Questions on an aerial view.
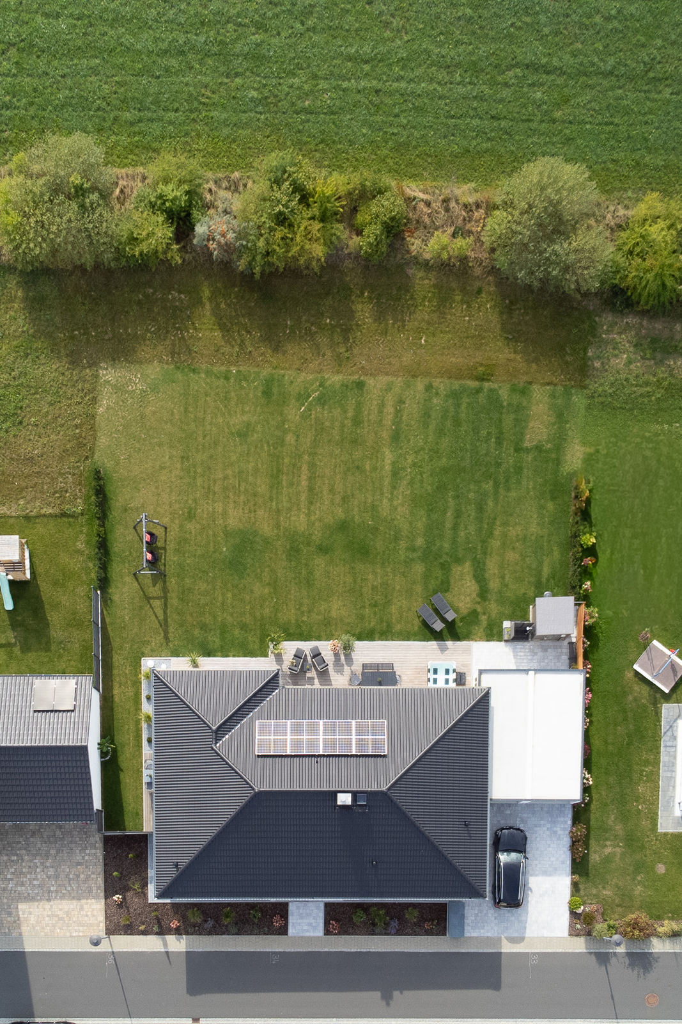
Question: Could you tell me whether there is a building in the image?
Yes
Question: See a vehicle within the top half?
No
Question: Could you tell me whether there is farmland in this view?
Yes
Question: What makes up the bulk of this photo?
grass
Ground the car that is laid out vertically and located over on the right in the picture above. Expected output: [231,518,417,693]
[492,827,529,909]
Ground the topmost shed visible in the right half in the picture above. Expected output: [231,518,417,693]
[528,597,574,641]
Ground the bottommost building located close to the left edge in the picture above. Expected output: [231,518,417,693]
[0,673,101,824]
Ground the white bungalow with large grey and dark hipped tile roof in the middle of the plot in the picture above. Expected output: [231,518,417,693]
[151,667,492,903]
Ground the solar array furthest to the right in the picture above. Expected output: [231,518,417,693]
[255,720,389,754]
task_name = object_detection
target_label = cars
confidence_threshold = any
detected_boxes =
[492,827,529,909]
[6,1017,87,1024]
